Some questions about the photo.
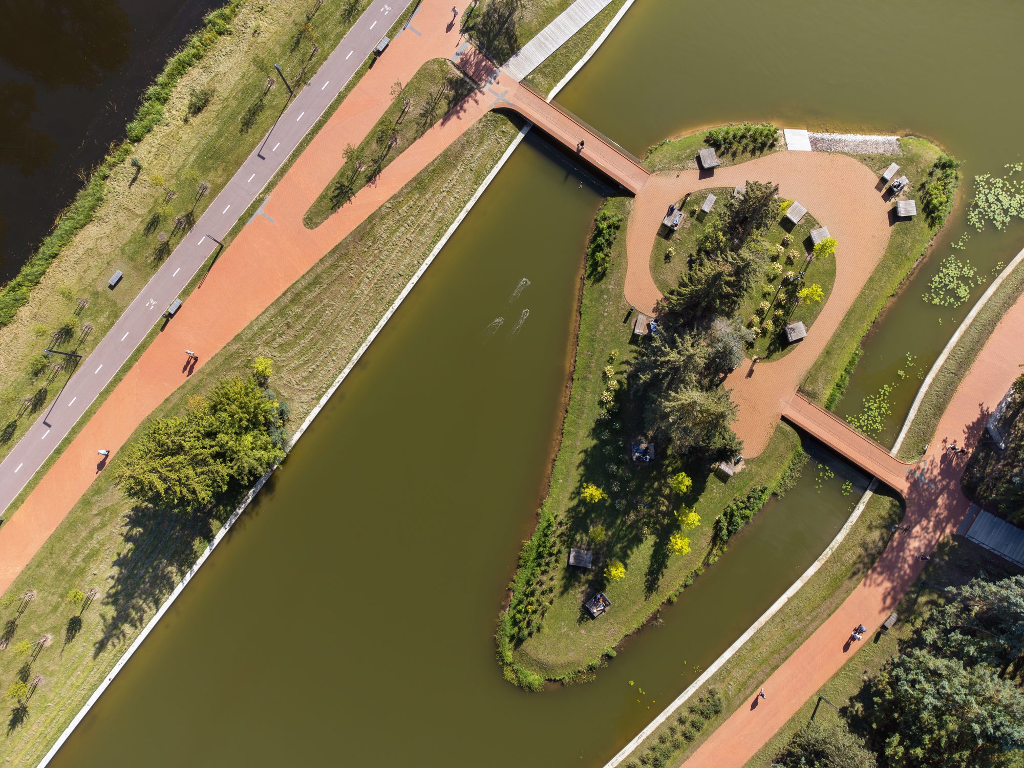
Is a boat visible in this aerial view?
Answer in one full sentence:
No, I can't see a single boat in this photo.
